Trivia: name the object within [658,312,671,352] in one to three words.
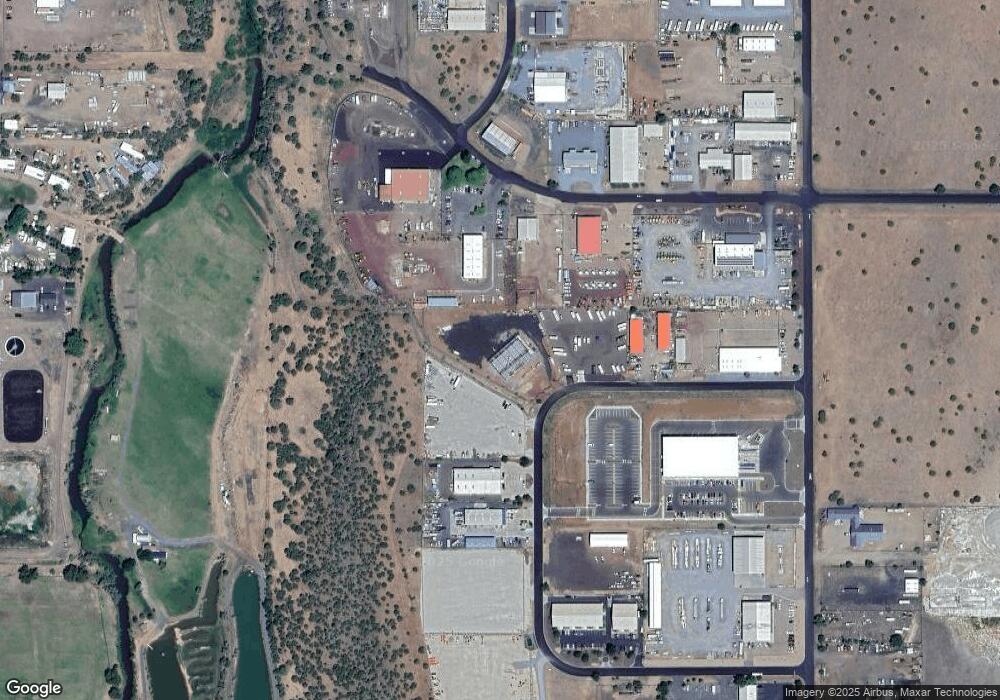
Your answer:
building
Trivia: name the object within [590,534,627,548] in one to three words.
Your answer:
shed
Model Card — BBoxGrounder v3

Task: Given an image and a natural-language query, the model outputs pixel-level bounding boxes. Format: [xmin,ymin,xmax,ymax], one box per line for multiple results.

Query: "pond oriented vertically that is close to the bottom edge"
[233,571,271,700]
